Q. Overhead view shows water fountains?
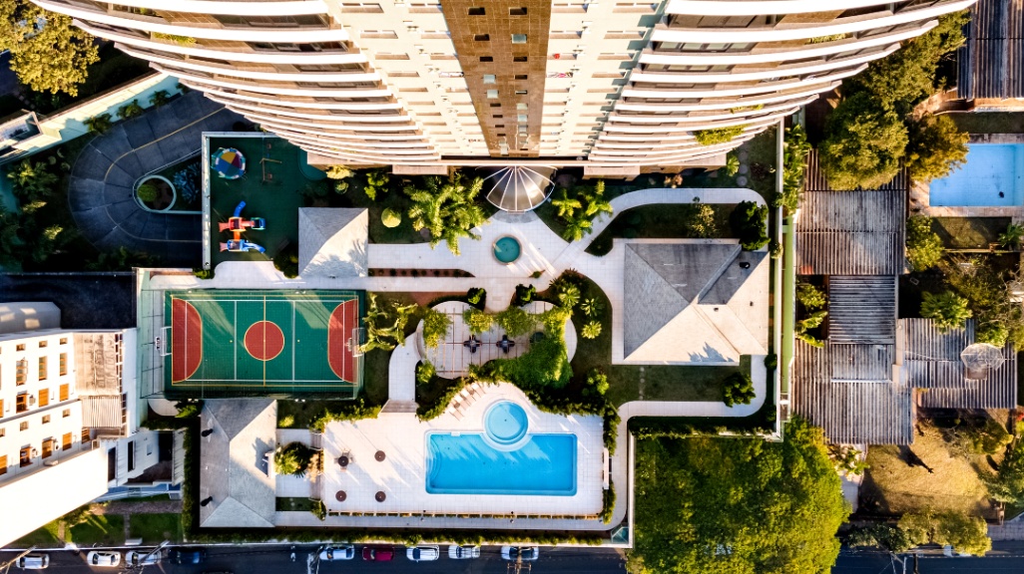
Yes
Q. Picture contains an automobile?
Yes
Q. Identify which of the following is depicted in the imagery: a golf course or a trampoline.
trampoline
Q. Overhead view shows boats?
No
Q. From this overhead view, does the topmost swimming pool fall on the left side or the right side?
right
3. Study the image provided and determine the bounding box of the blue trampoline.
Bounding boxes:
[212,146,250,180]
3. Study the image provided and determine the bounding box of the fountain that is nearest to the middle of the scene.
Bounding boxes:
[492,234,522,264]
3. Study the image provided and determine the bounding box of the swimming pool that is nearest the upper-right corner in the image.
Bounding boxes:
[931,142,1024,206]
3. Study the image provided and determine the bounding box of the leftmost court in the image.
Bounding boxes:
[164,289,364,399]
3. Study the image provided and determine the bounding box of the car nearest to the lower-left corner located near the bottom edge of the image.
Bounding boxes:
[18,551,54,571]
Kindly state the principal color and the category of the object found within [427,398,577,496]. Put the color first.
blue swimming pool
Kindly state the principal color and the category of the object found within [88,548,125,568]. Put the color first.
white car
